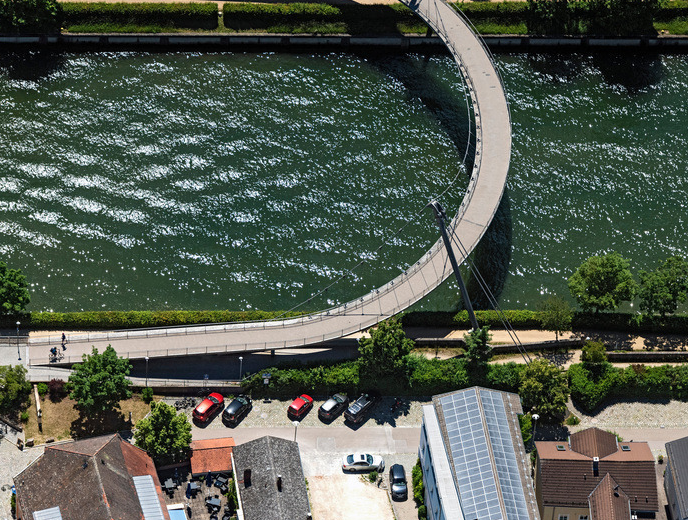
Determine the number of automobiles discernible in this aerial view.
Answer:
7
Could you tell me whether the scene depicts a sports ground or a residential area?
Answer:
residential area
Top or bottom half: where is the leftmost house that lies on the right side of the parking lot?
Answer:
bottom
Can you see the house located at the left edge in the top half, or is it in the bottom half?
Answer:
bottom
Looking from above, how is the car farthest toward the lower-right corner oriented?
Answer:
vertically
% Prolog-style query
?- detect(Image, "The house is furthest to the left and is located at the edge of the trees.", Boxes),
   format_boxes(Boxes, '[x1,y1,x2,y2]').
[11,433,174,520]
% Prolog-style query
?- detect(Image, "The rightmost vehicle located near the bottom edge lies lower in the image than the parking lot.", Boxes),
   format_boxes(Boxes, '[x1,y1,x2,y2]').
[389,462,409,500]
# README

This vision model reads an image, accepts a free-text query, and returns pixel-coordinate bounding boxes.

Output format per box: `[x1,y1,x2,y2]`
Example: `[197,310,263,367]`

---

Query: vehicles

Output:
[317,393,350,423]
[221,394,253,426]
[191,395,224,425]
[286,393,313,421]
[389,462,409,500]
[343,391,379,426]
[341,451,385,472]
